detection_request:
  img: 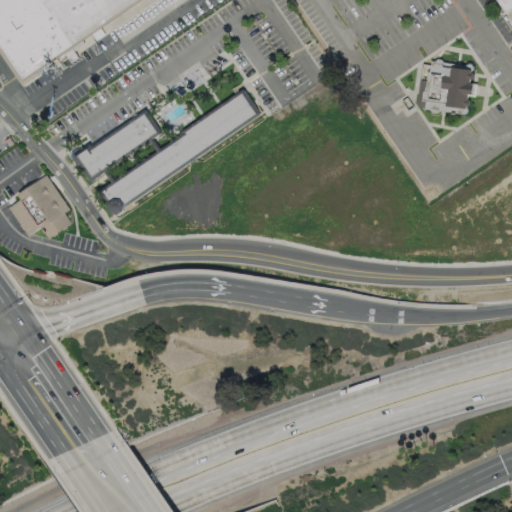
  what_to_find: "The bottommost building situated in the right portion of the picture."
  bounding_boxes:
[418,57,477,116]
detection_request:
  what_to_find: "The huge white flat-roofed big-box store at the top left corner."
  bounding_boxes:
[0,0,146,82]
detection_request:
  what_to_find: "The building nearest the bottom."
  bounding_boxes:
[10,176,71,238]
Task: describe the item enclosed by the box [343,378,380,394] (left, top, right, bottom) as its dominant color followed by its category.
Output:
white vehicle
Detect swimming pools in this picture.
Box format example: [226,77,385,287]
[156,100,196,126]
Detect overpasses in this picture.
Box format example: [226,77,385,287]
[0,260,178,512]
